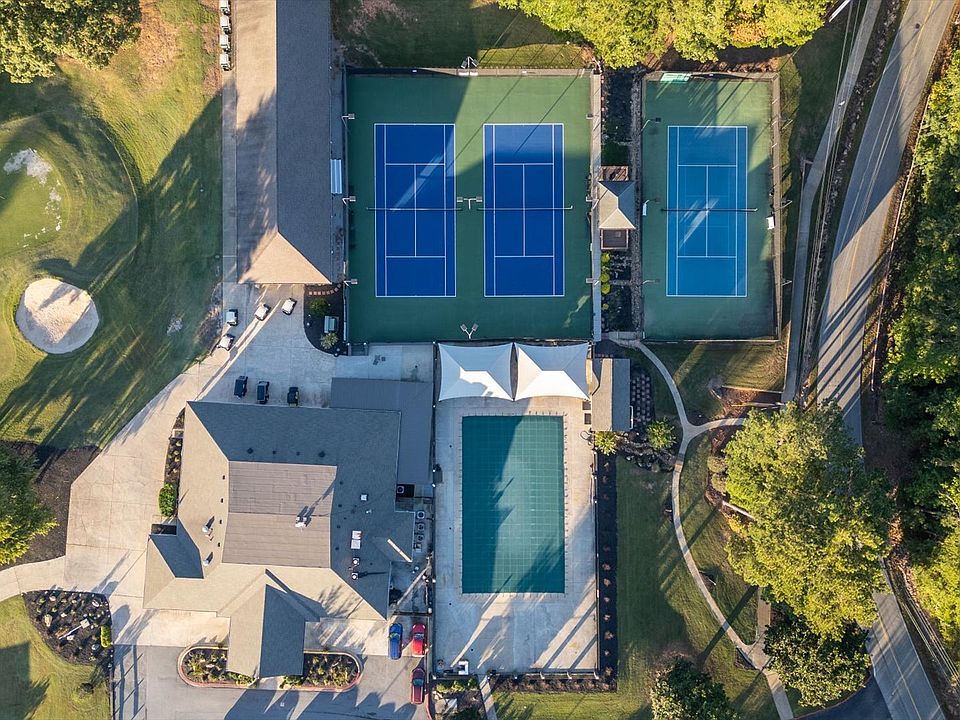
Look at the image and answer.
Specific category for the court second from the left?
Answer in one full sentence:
The court second from the left in the image is a tennis court.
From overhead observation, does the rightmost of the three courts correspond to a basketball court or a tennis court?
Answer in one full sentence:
Looking closely, the rightmost of the three courts is a tennis court.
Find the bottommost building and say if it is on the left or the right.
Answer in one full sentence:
The bottommost building appears in the left half of the scene.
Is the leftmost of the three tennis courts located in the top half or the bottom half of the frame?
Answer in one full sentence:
It is in the top half that the leftmost of the three tennis courts appears.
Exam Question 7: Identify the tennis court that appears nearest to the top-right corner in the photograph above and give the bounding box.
[645,80,775,338]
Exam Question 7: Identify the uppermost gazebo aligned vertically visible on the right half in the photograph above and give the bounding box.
[598,164,636,249]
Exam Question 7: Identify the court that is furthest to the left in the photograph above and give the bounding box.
[346,75,469,342]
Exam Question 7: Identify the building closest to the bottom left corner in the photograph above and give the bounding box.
[144,402,415,679]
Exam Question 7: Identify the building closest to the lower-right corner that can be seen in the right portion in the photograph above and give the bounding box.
[591,358,631,431]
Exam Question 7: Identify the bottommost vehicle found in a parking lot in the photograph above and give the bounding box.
[410,669,425,706]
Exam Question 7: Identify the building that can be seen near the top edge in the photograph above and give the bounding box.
[237,0,333,283]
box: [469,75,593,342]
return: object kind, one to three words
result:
tennis court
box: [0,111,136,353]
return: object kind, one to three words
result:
golf course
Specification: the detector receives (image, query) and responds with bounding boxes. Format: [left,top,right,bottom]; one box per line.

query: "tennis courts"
[469,75,593,342]
[645,80,775,338]
[346,75,469,342]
